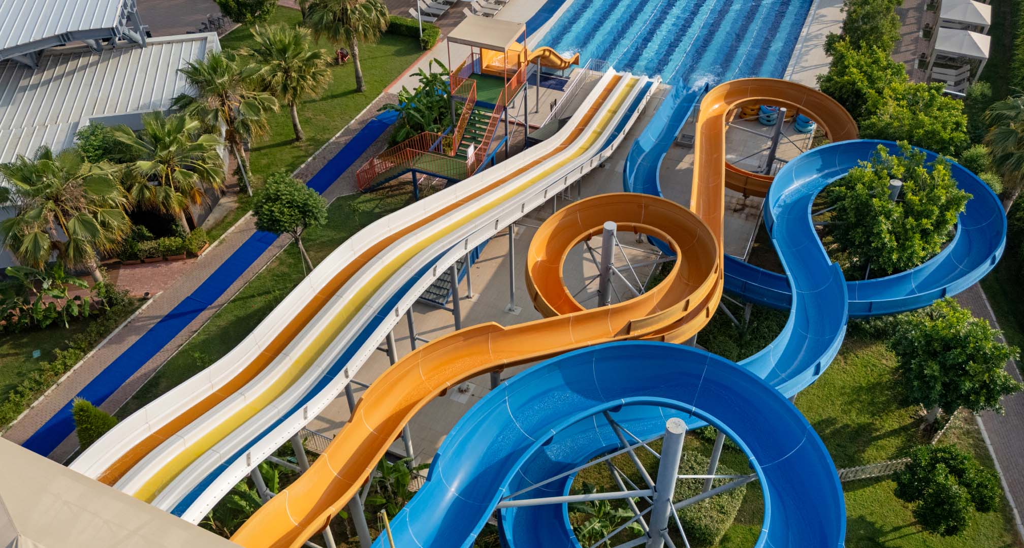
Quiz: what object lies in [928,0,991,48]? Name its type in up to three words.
gazebo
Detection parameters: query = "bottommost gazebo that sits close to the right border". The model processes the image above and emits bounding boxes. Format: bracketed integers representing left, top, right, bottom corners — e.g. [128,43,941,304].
[922,28,991,89]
